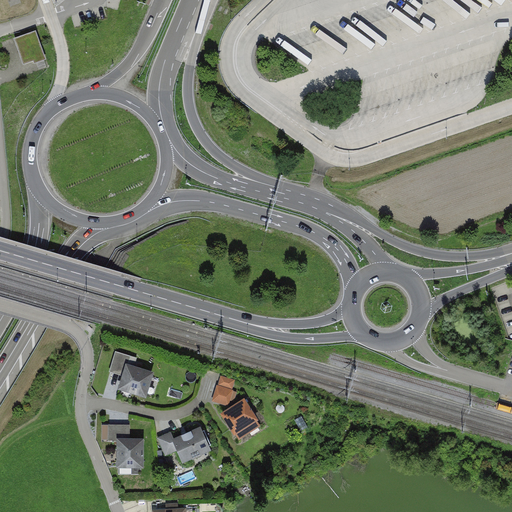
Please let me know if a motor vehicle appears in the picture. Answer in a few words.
Yes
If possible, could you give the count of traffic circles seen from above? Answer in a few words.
2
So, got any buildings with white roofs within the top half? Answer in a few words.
No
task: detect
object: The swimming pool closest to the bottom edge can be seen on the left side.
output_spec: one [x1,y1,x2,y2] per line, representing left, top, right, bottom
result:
[177,470,196,486]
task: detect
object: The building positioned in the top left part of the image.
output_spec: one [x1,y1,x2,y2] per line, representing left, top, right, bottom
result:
[14,31,48,69]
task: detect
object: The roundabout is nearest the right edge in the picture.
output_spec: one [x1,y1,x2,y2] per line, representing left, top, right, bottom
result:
[342,262,430,350]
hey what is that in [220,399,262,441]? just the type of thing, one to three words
house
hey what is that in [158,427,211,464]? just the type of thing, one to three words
house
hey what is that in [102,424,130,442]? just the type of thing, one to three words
building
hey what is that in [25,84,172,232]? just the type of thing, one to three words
roundabout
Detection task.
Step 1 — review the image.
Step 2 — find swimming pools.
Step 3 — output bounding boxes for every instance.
[168,388,183,400]
[177,470,196,486]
